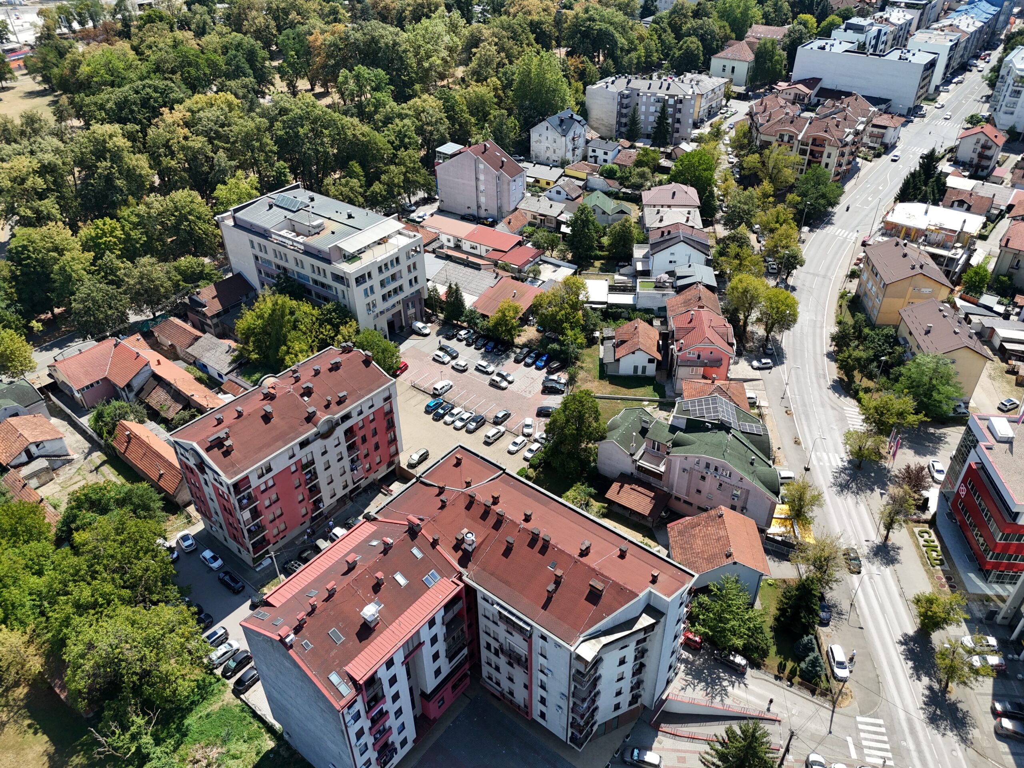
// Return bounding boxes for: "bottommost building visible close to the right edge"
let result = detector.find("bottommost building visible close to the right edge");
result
[940,410,1024,592]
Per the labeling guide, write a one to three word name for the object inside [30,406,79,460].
house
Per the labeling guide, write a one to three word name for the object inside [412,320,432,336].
vehicle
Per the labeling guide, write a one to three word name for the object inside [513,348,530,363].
car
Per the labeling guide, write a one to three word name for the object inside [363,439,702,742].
building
